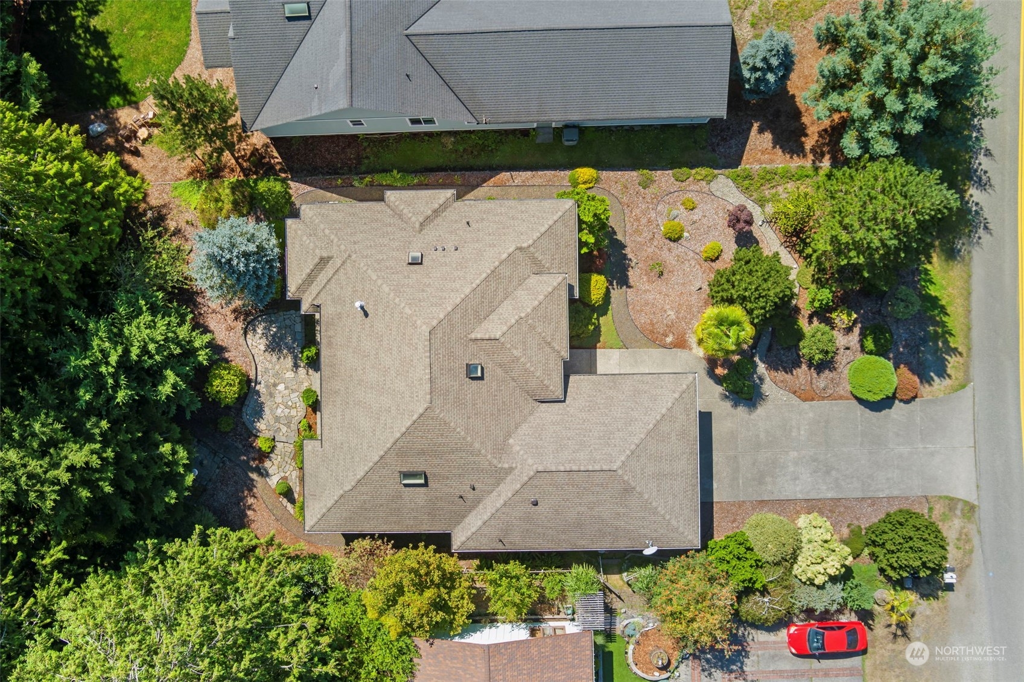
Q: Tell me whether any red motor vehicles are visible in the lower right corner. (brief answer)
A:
Yes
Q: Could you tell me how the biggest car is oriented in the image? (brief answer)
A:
horizontally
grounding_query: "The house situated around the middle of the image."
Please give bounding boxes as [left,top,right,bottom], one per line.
[284,188,702,554]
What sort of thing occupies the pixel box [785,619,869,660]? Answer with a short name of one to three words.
car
